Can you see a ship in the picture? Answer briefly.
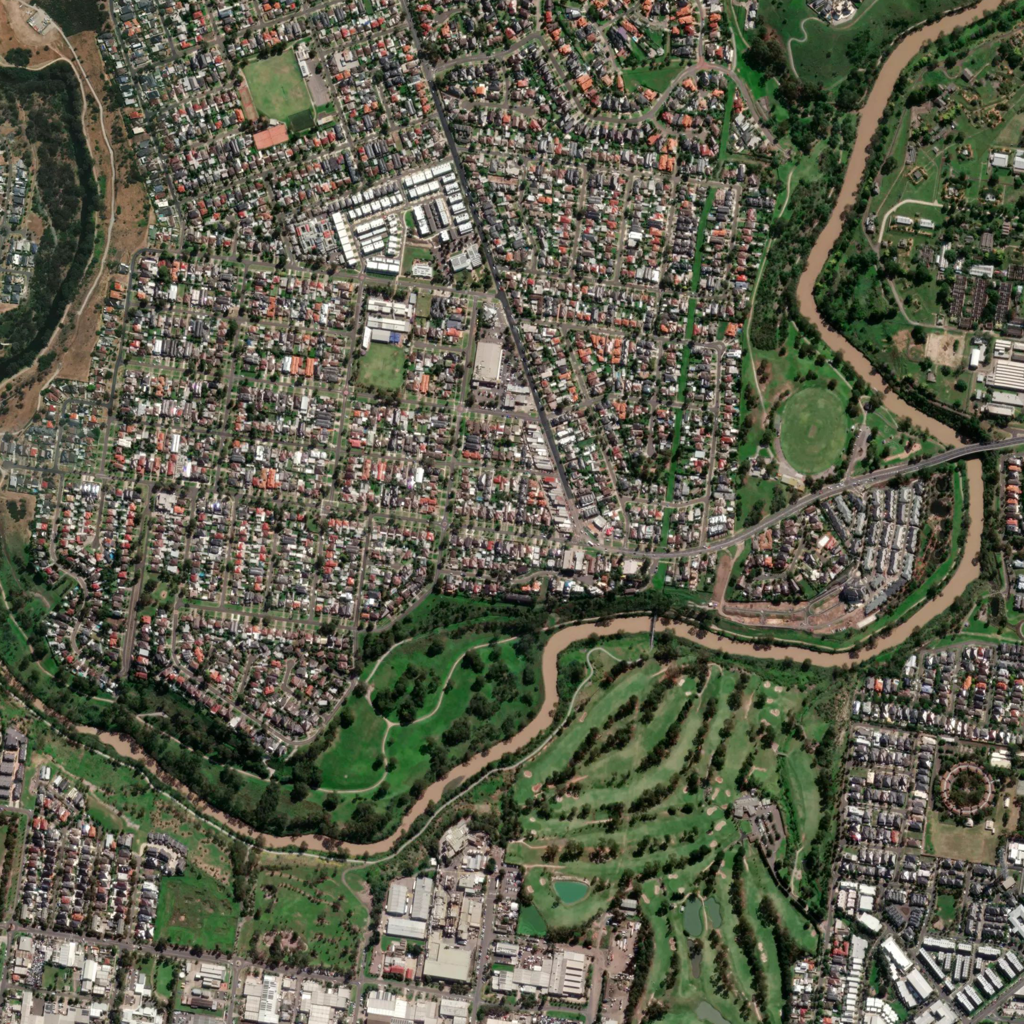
No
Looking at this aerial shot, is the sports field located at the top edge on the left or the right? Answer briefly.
left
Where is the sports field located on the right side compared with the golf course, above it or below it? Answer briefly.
above it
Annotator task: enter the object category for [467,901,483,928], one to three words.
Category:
building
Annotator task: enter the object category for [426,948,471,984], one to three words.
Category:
building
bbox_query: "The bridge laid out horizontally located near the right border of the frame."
[913,435,1024,472]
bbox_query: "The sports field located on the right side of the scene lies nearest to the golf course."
[779,387,849,476]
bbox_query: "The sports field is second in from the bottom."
[357,344,405,389]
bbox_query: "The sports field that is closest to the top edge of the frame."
[244,49,314,121]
